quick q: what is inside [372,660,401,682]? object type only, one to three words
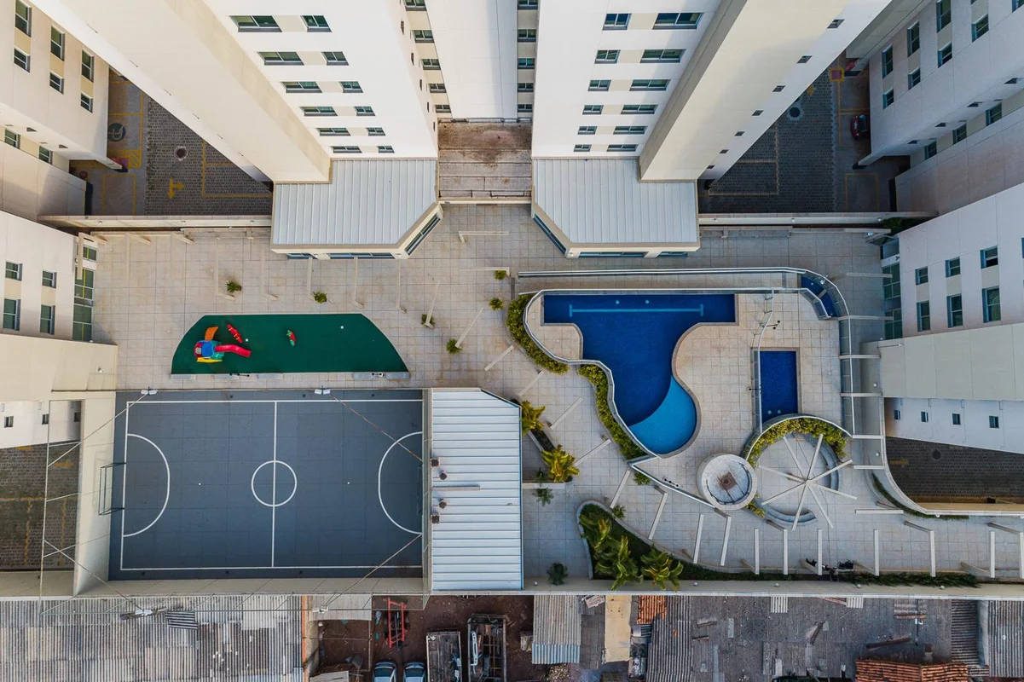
car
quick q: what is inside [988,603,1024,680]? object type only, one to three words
shed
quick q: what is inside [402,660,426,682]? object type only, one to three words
car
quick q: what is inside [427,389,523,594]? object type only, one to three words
building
